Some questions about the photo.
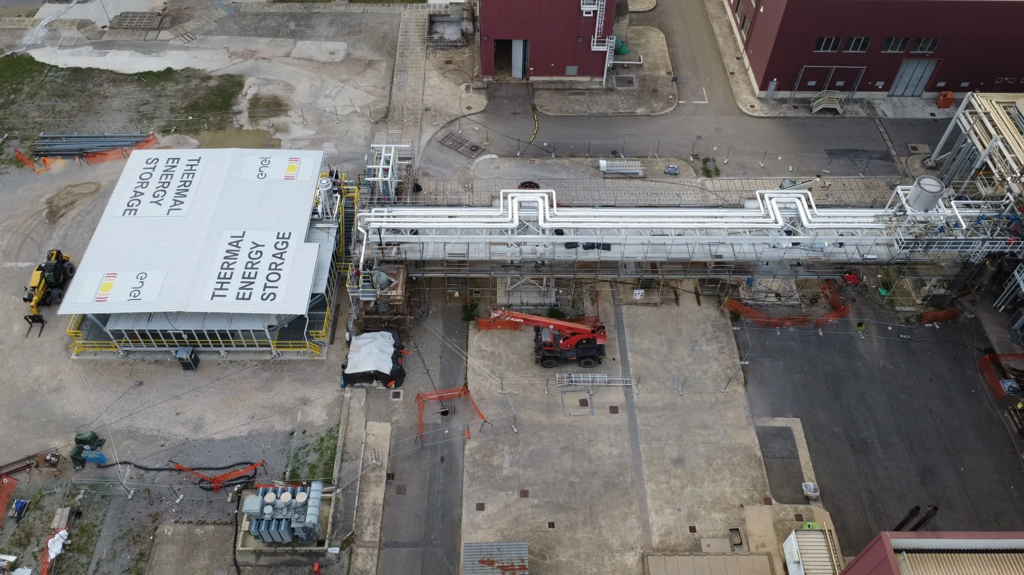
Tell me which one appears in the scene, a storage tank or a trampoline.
storage tank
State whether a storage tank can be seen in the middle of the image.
No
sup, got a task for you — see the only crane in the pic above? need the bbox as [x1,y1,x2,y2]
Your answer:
[493,310,608,366]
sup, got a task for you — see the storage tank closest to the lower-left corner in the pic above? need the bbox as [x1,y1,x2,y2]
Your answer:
[248,498,304,530]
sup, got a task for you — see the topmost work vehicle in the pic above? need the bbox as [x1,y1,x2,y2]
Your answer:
[9,249,74,335]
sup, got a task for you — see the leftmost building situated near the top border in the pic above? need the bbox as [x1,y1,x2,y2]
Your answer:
[477,0,614,84]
